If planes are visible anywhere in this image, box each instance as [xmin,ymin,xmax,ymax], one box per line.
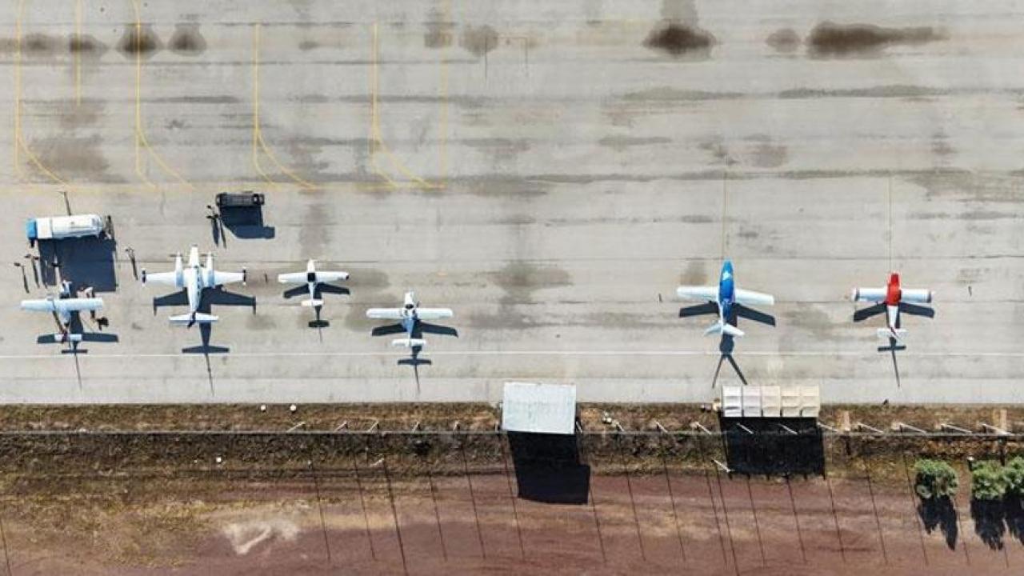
[18,277,107,346]
[277,257,348,309]
[140,245,247,329]
[366,289,453,348]
[678,260,774,338]
[855,269,934,335]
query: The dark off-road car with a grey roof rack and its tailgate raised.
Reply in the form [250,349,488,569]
[218,189,264,208]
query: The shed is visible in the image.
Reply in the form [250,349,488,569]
[502,381,576,434]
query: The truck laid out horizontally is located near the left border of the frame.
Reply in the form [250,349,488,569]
[27,216,110,245]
